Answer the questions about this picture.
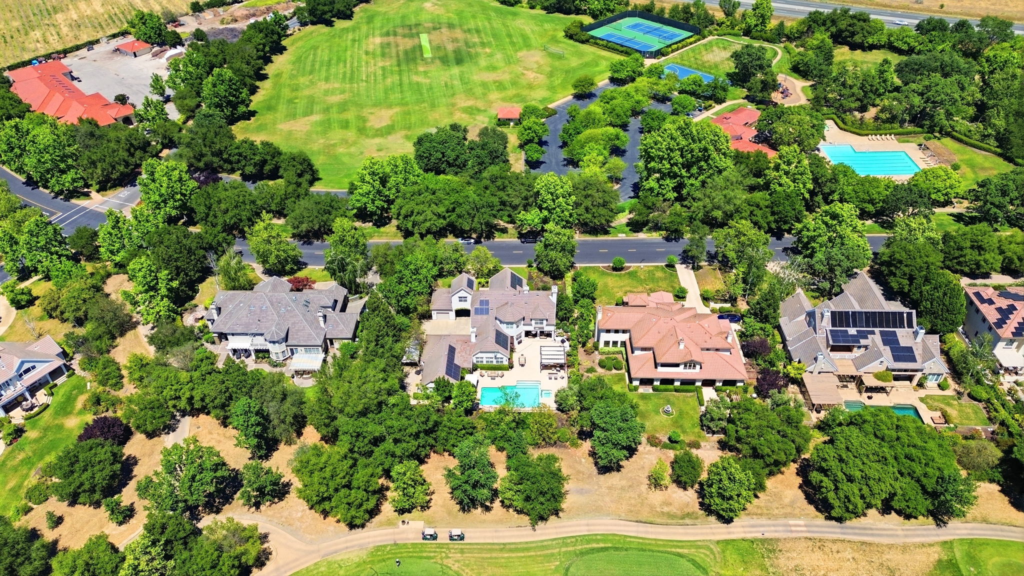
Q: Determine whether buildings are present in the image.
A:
Yes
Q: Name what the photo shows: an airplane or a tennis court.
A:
tennis court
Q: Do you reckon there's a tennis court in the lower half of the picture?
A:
No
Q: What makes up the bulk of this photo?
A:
trees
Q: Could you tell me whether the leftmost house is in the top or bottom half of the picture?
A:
bottom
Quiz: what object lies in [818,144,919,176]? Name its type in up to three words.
swimming pool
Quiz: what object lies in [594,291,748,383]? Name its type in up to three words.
house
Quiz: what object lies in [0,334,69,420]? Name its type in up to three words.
house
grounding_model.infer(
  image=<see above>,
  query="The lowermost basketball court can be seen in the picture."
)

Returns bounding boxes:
[658,60,727,88]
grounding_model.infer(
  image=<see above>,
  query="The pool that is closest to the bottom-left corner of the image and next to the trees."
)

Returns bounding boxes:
[478,379,542,408]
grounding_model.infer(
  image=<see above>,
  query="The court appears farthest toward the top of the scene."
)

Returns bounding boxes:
[589,17,693,60]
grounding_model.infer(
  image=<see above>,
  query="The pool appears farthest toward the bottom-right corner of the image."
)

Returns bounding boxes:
[843,399,924,423]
